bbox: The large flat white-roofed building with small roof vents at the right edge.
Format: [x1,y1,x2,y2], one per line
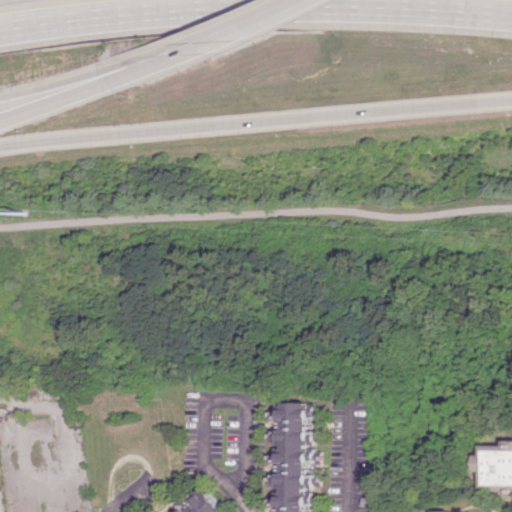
[468,440,512,496]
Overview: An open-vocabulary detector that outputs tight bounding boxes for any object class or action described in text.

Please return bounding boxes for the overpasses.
[0,0,330,135]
